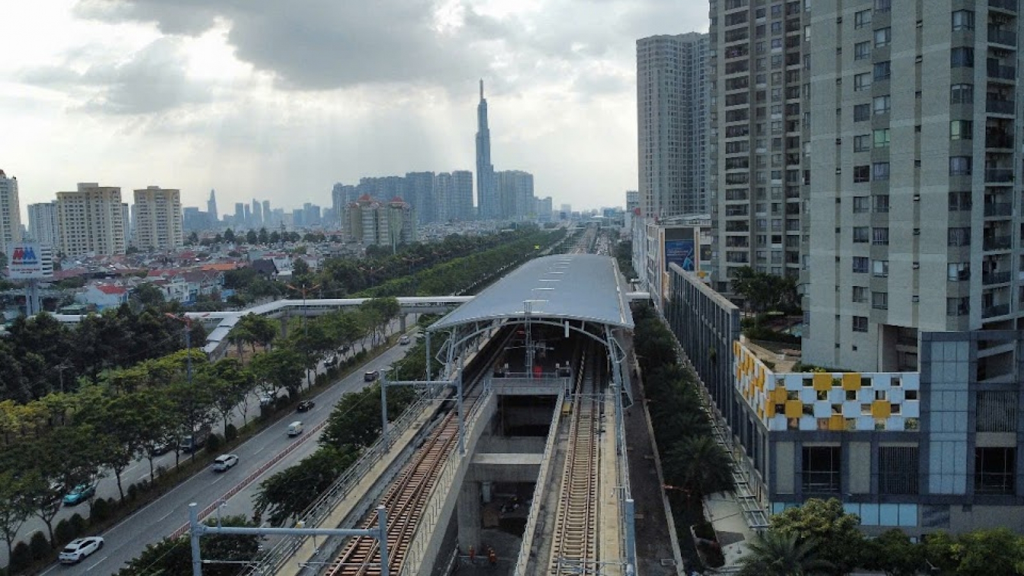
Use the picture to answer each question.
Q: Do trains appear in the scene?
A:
No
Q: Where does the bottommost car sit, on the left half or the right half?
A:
left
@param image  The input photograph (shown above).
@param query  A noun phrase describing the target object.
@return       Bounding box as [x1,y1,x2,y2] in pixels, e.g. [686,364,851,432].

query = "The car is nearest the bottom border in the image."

[80,532,120,553]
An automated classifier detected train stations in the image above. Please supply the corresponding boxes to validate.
[428,253,637,445]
